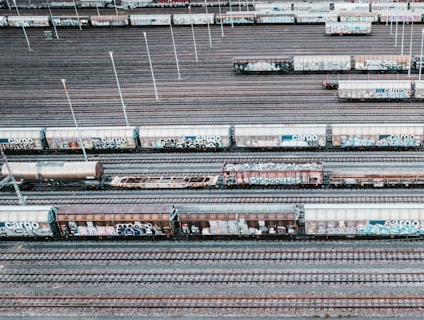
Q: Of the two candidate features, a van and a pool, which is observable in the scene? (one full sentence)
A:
There is a van in the scene.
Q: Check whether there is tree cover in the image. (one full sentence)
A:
No, no tree cover is visible.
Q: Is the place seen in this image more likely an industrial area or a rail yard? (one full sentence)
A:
The picture captures a rail yard.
